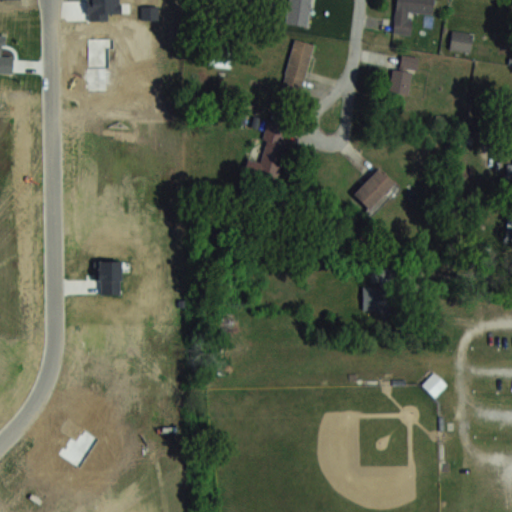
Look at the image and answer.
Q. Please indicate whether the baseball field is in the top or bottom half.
bottom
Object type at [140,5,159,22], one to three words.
building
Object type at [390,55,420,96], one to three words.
house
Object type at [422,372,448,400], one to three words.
building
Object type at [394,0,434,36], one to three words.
house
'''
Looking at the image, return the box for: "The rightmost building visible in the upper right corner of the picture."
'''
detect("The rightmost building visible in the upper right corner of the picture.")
[450,31,474,54]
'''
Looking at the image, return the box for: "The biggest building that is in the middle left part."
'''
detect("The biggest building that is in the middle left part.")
[98,262,122,296]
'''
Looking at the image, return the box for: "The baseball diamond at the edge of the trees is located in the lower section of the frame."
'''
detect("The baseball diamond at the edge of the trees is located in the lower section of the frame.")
[210,383,445,512]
